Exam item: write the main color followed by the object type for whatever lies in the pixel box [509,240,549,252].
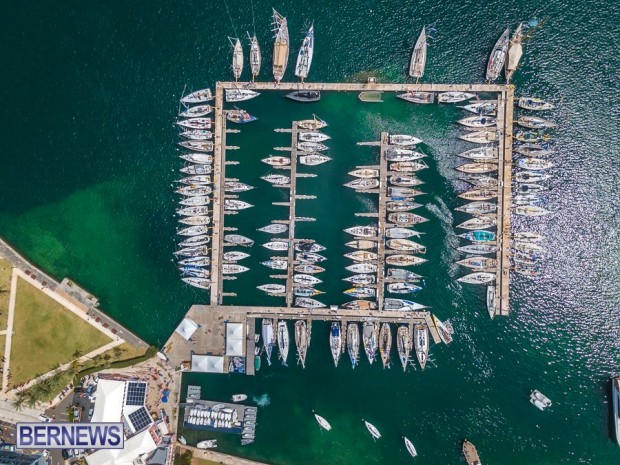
white boat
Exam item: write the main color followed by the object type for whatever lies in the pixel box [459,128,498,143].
white boat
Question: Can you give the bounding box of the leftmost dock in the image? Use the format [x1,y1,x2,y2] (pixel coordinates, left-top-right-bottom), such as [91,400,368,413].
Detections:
[54,277,101,312]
